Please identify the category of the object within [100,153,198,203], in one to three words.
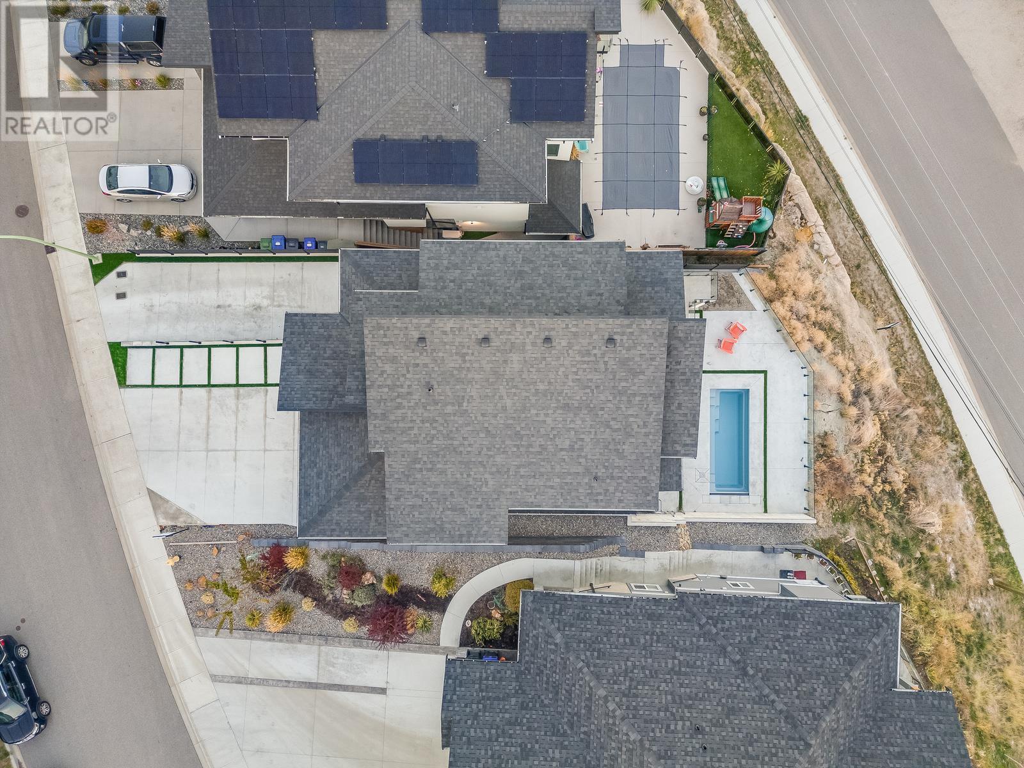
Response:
car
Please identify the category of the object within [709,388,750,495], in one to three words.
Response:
swimming pool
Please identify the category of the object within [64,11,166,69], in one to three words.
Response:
car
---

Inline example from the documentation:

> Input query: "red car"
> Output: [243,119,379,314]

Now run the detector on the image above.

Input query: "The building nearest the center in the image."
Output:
[278,239,707,546]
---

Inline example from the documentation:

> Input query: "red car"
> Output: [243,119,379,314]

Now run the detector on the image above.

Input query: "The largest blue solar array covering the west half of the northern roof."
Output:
[207,0,388,119]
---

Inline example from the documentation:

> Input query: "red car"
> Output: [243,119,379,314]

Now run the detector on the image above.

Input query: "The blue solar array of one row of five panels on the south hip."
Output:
[350,140,479,185]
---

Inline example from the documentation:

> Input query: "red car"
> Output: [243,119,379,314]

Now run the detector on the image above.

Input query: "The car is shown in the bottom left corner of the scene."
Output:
[0,633,53,743]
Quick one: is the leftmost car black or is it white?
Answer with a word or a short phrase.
black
